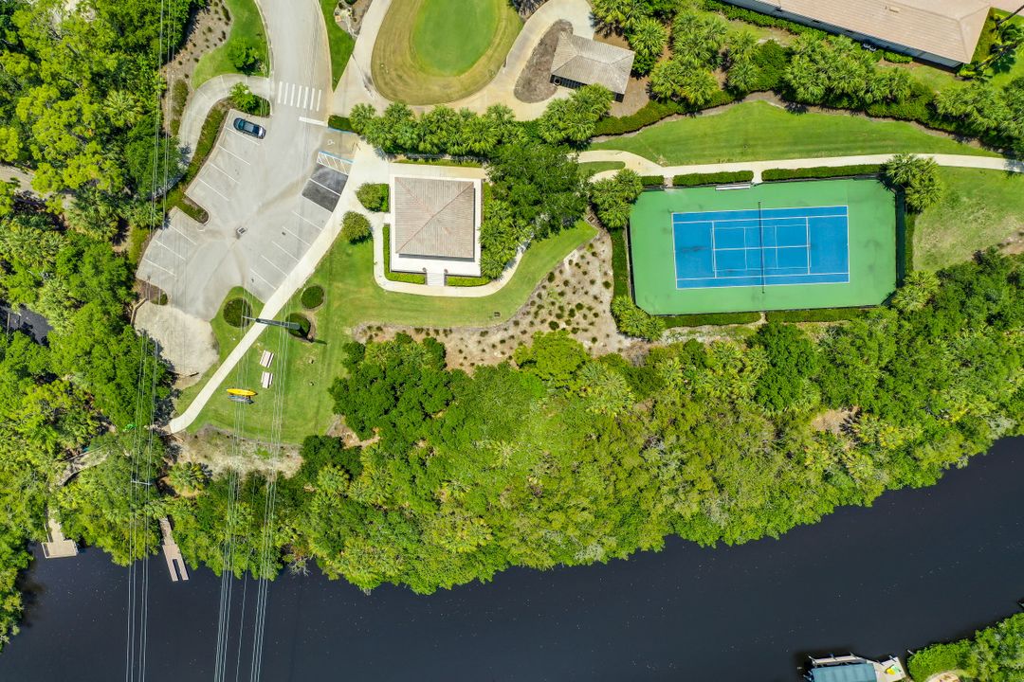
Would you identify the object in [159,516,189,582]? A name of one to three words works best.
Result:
pier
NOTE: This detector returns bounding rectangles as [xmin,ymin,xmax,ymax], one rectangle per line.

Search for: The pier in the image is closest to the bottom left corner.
[40,505,82,559]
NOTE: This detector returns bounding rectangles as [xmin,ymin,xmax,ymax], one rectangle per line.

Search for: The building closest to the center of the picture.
[384,175,482,287]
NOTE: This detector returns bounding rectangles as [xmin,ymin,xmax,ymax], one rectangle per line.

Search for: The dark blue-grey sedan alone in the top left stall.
[231,115,267,138]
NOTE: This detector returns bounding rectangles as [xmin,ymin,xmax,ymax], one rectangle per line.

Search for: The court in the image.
[632,178,897,315]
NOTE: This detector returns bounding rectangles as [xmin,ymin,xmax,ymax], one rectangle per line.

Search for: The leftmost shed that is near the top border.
[550,29,634,99]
